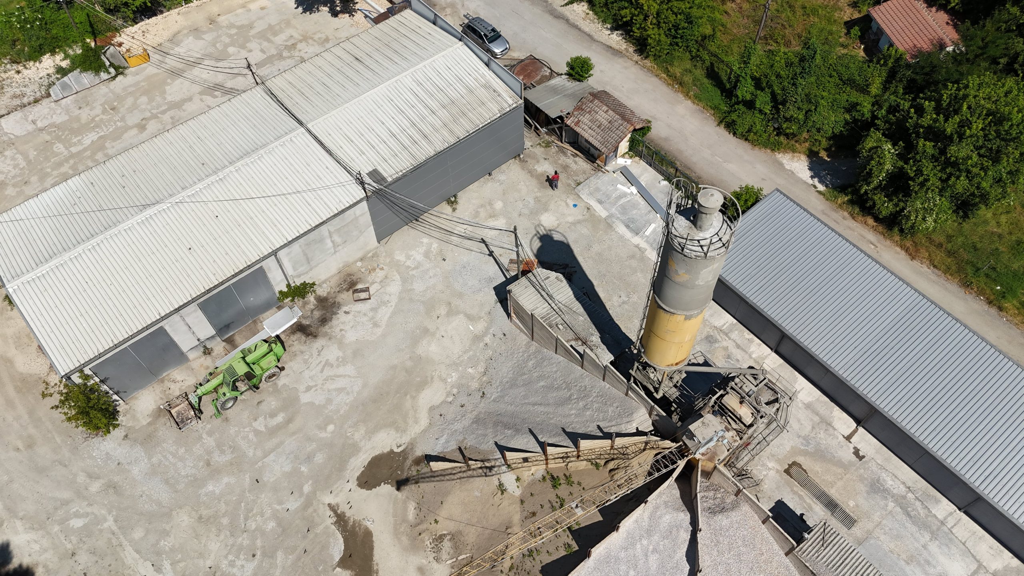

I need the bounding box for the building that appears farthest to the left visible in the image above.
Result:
[0,0,529,404]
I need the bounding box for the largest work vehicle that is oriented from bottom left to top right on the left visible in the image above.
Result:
[185,341,287,425]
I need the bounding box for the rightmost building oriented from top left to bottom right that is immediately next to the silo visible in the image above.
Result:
[713,187,1024,553]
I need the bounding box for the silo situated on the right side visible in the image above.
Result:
[631,181,743,408]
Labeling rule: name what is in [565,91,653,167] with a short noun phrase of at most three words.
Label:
shed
